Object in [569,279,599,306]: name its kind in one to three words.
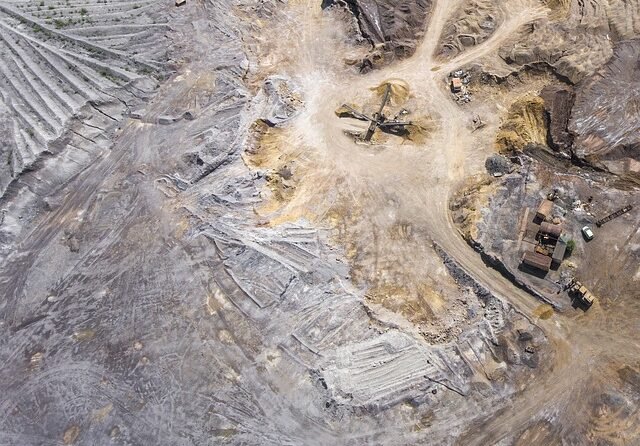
work vehicle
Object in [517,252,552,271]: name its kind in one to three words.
shed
